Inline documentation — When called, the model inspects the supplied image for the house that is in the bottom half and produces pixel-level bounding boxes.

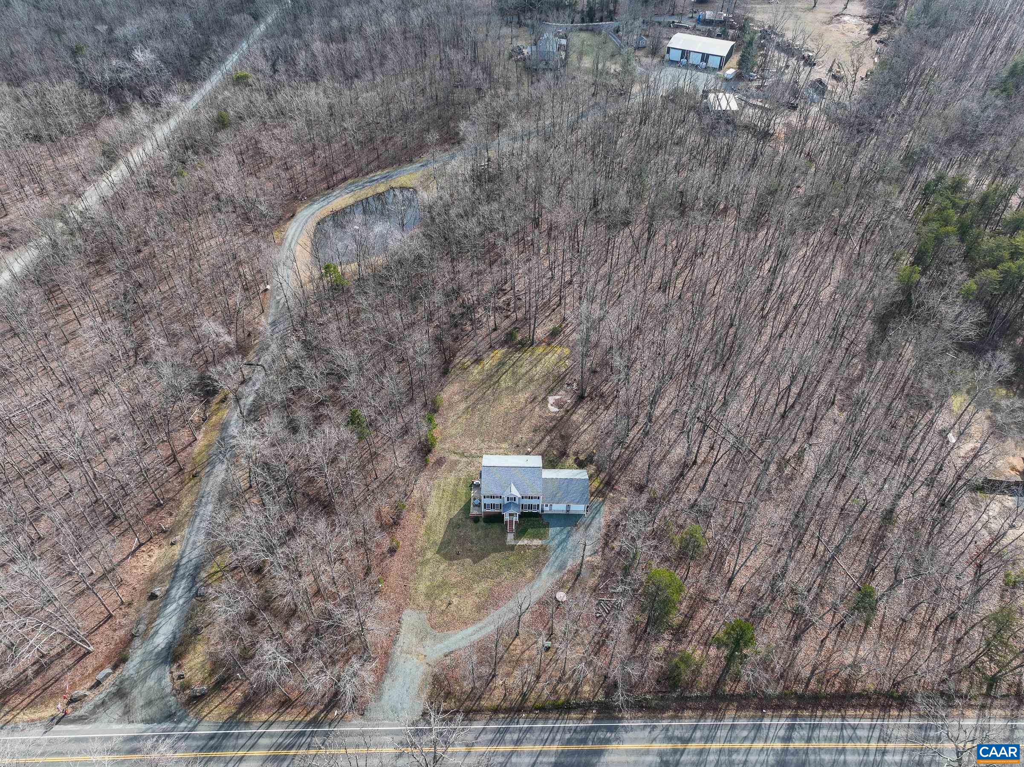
[471,455,589,534]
